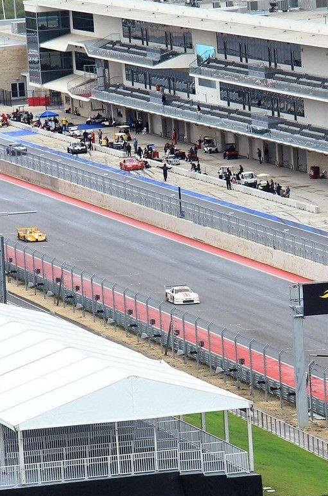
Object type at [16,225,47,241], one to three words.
car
